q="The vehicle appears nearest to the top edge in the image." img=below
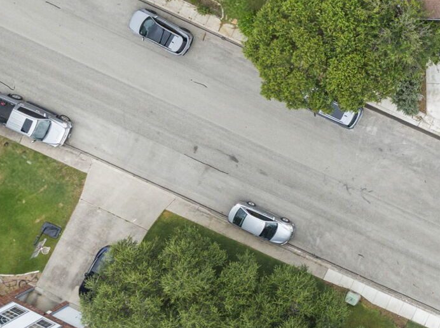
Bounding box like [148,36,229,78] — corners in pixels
[130,8,194,54]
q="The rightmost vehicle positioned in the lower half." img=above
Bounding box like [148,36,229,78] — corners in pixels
[228,199,293,243]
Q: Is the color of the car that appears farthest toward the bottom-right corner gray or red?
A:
gray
